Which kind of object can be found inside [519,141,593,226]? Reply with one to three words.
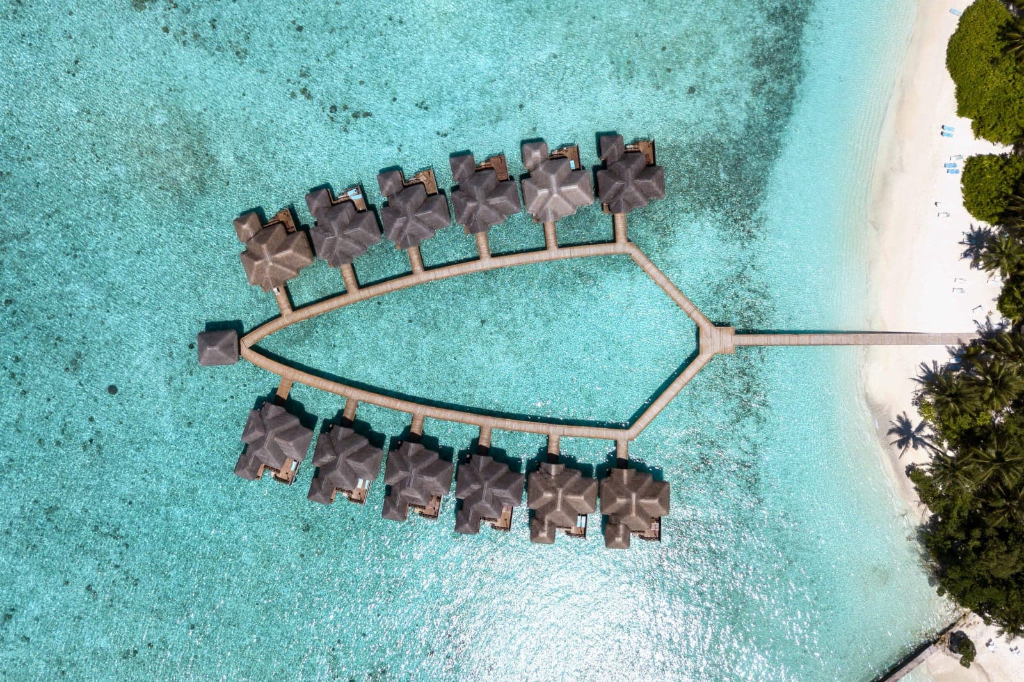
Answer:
house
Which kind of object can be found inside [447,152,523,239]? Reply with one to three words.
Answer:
house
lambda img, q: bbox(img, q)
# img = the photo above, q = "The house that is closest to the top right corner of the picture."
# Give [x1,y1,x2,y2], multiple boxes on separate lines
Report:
[595,134,666,218]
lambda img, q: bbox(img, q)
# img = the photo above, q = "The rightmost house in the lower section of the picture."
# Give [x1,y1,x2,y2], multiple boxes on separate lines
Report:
[599,463,668,546]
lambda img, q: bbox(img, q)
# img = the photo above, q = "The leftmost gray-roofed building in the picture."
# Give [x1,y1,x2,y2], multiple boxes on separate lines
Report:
[198,330,245,365]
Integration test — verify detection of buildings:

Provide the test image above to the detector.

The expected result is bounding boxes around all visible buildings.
[302,183,383,271]
[519,141,593,226]
[198,330,245,365]
[447,152,523,239]
[232,399,314,488]
[230,206,314,295]
[595,134,666,218]
[452,450,524,534]
[379,436,454,522]
[374,165,453,253]
[526,459,597,541]
[305,420,384,508]
[599,463,668,546]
